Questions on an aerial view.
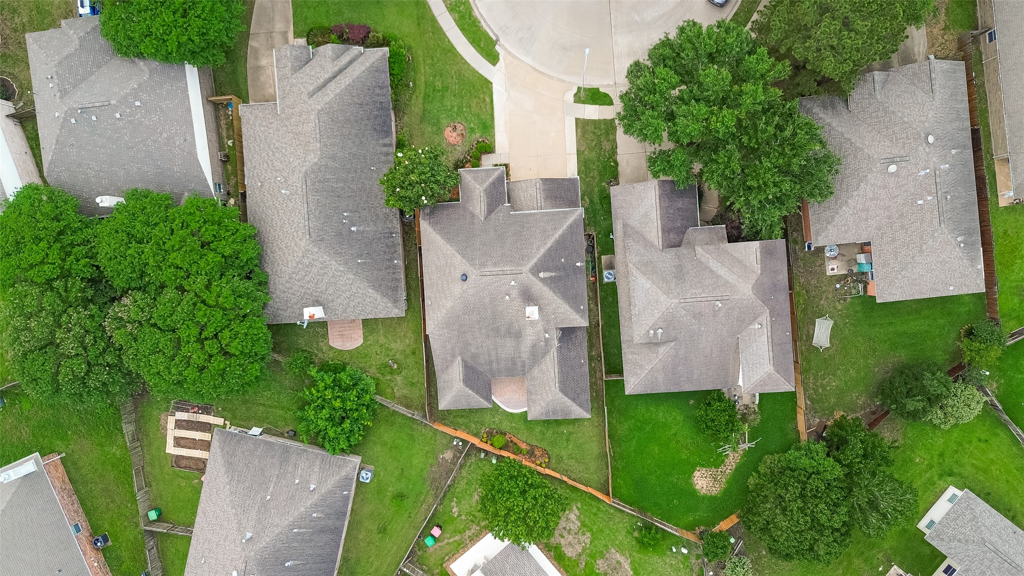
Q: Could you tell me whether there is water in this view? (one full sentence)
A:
No, there's no water in this view.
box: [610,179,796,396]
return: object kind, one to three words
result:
house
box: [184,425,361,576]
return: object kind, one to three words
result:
house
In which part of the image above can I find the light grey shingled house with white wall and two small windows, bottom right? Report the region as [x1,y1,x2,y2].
[906,484,1024,576]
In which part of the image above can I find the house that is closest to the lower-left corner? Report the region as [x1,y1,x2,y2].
[0,449,116,576]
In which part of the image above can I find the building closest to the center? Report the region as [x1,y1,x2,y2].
[419,165,592,421]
